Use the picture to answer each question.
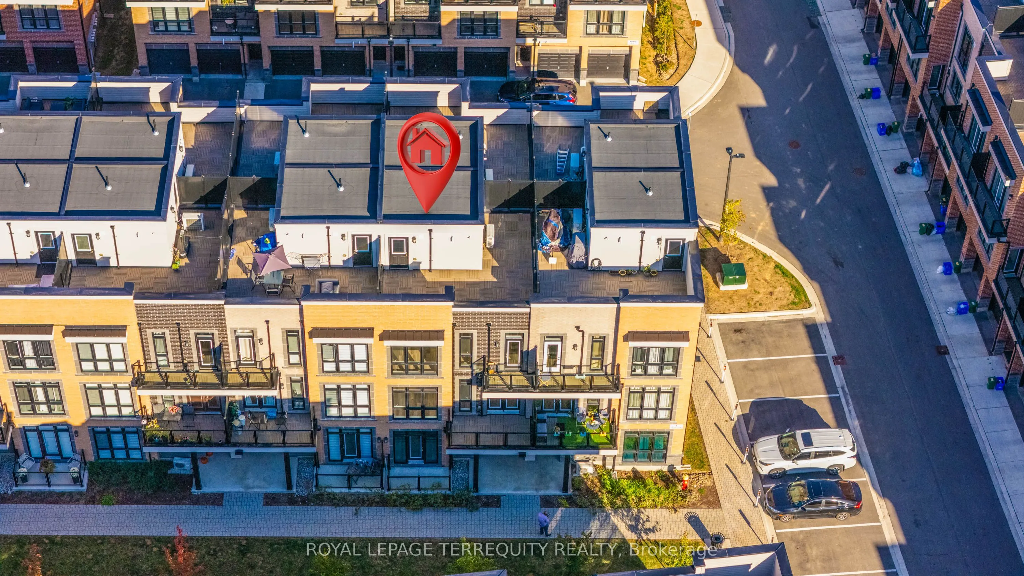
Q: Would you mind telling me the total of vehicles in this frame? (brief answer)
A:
three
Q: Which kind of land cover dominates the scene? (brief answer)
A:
buildings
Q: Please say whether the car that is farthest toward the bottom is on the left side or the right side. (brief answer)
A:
right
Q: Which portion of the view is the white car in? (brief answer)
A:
bottom right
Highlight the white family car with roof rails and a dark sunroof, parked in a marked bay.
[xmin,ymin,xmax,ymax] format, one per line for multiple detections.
[751,429,860,483]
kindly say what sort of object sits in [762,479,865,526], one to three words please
car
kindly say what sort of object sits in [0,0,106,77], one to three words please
house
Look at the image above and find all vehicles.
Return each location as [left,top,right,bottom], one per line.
[496,77,580,101]
[751,429,860,483]
[762,479,865,526]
